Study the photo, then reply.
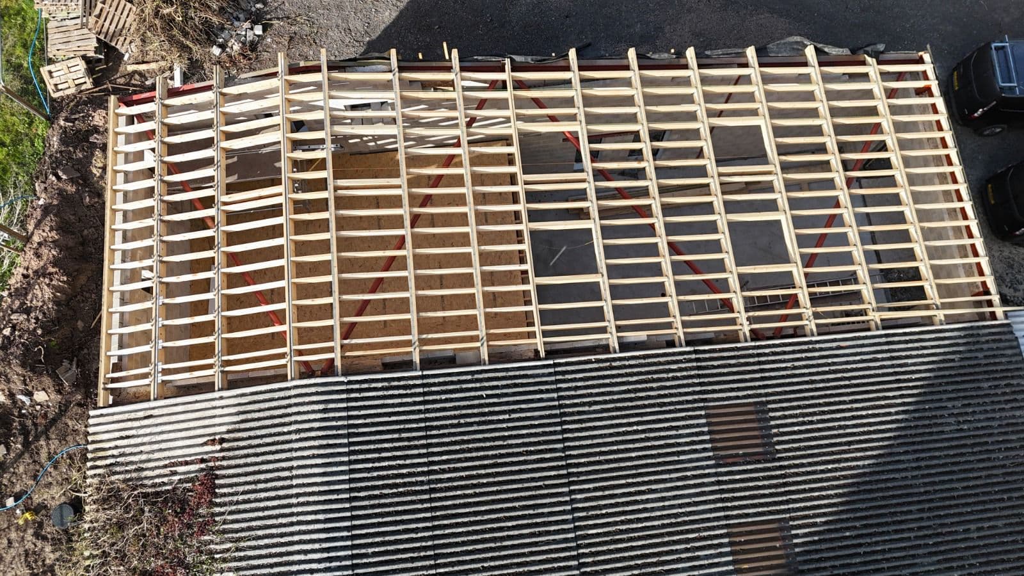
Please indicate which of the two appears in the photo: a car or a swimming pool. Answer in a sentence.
This aerial view contains a car.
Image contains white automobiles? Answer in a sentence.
No, the scene contains no white automobile.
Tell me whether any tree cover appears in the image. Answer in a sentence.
No, there's no tree cover in this view.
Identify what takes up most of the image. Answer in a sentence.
Most of the picture is covered by buildings.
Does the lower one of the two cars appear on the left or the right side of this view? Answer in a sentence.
It is on the right.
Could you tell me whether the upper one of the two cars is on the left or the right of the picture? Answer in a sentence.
You can find the upper one of the two cars on the right side of the picture.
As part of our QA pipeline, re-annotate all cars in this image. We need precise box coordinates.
[935,25,1024,136]
[969,154,1024,246]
